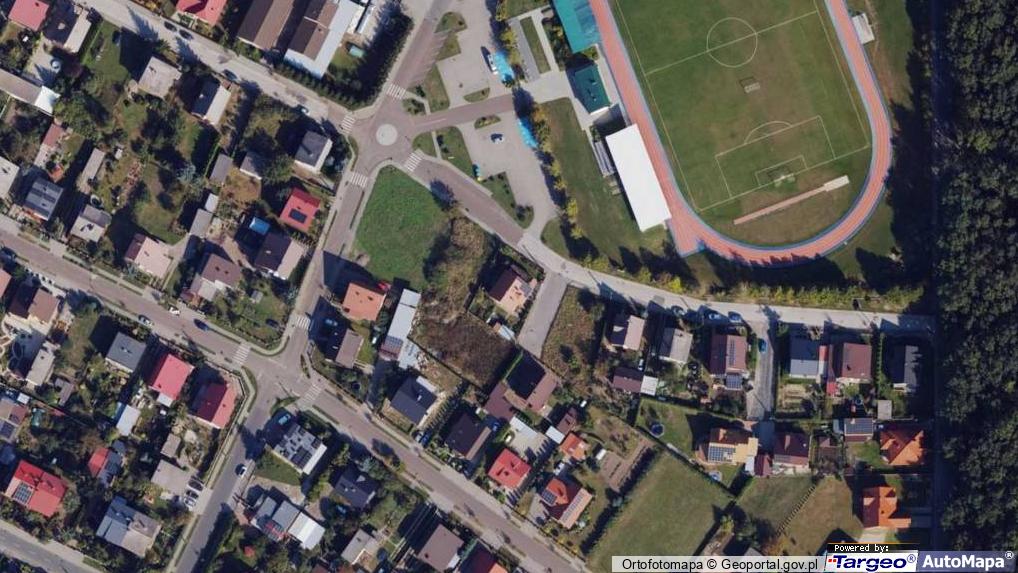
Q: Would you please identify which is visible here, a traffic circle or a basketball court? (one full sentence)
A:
Of the two, only a traffic circle appears.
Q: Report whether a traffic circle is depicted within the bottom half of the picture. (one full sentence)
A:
No, I see no traffic circle within the bottom half of the picture.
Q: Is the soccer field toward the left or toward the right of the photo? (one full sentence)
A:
The soccer field is on the right side of the image.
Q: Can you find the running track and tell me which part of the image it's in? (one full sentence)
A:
Look in the top right portion of the view to spot the running track.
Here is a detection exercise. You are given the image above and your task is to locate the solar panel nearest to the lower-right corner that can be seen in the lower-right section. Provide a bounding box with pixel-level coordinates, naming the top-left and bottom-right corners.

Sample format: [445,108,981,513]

[844,420,872,434]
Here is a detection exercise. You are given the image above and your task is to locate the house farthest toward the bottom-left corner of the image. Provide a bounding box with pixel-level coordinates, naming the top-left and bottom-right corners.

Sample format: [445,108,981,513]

[2,459,69,517]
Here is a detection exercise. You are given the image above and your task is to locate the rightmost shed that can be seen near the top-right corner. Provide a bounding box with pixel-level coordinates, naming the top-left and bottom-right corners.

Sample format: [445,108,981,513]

[852,13,875,44]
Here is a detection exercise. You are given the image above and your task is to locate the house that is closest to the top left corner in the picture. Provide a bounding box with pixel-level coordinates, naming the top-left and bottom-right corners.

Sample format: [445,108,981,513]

[8,0,48,32]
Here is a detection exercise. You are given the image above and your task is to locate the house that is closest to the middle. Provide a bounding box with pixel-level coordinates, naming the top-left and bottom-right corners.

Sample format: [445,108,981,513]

[487,265,535,310]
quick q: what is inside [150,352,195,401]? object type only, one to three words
house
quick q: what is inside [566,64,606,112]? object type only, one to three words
building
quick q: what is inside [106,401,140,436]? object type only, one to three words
shed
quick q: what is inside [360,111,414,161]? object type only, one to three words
roundabout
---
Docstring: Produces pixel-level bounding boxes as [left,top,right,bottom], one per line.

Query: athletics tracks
[585,0,896,273]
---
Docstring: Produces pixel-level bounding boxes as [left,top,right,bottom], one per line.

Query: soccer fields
[608,0,872,249]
